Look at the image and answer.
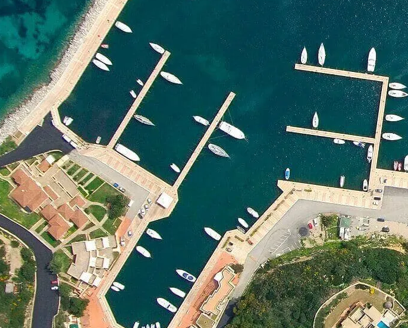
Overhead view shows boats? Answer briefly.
Yes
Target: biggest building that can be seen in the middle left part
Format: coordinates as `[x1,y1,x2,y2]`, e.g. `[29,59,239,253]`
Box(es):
[11,154,93,240]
